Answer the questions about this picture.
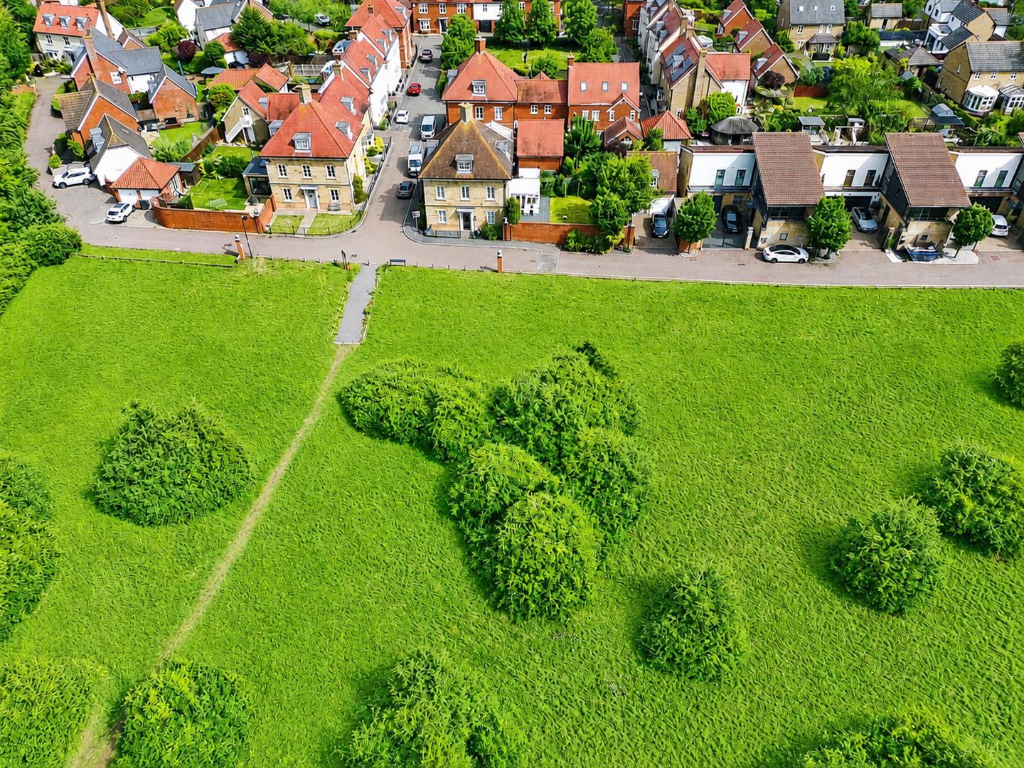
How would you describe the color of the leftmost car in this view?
white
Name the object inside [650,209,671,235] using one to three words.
car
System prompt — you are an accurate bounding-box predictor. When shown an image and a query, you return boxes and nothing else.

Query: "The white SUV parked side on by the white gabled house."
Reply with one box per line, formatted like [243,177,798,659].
[50,165,94,187]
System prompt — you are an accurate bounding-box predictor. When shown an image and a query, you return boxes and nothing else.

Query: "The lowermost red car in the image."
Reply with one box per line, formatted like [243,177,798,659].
[405,84,421,98]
